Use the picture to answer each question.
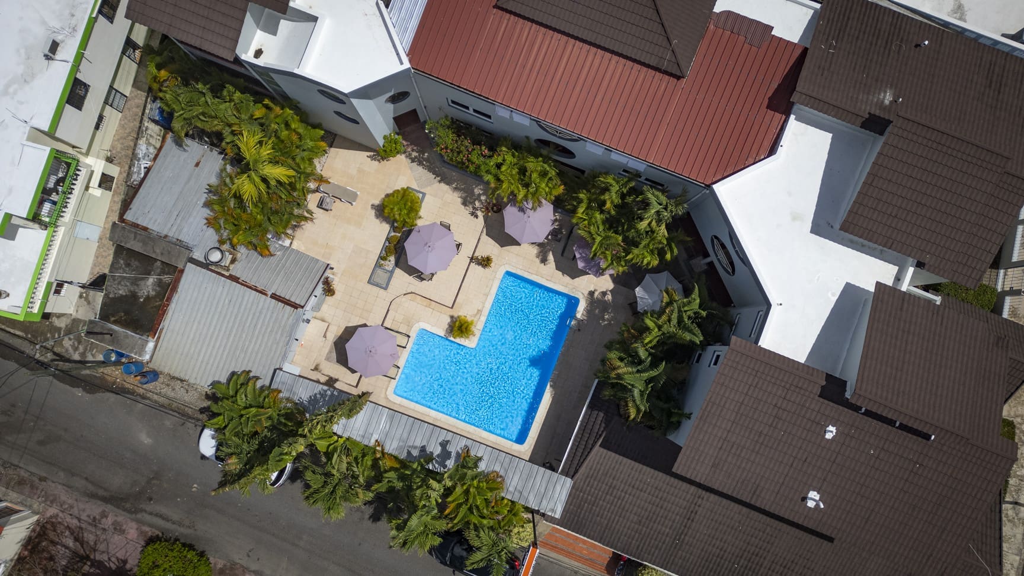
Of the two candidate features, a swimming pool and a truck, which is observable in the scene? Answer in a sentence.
There is a swimming pool in the scene.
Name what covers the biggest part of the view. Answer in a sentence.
The bulk of the photo consists of buildings.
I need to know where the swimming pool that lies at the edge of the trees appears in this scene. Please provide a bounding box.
[386,263,587,452]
